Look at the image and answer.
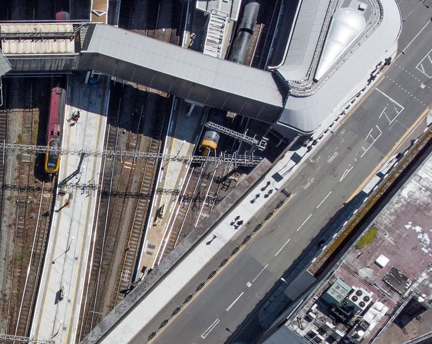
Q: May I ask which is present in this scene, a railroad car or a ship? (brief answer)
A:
railroad car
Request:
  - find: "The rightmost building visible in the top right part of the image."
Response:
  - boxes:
[262,0,402,153]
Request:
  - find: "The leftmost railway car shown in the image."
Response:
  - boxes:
[43,76,68,186]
